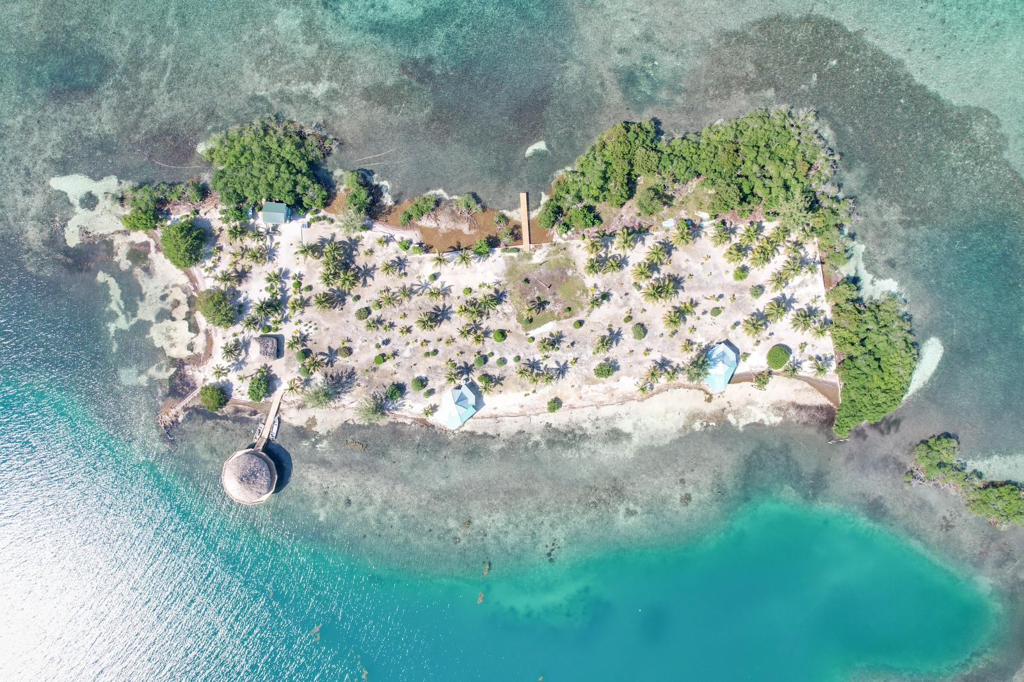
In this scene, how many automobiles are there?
0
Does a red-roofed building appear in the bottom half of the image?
No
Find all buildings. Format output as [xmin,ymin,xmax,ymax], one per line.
[249,336,278,363]
[220,448,279,505]
[704,343,737,391]
[444,385,476,429]
[262,202,291,223]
